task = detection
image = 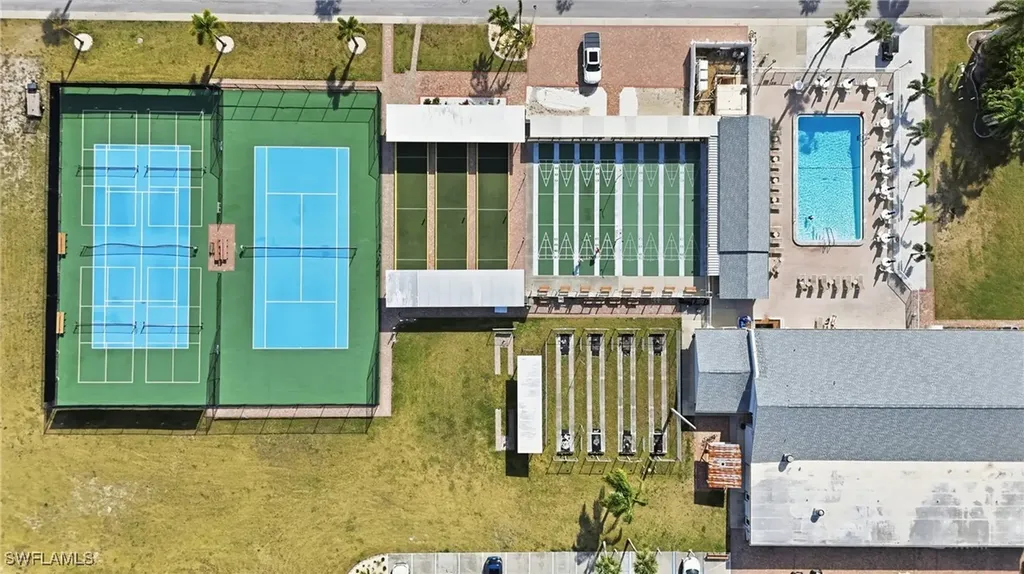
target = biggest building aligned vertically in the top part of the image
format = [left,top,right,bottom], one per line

[716,115,771,299]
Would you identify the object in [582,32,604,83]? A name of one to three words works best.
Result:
truck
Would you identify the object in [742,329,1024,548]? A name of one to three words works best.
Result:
building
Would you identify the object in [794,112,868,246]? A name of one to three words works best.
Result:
swimming pool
